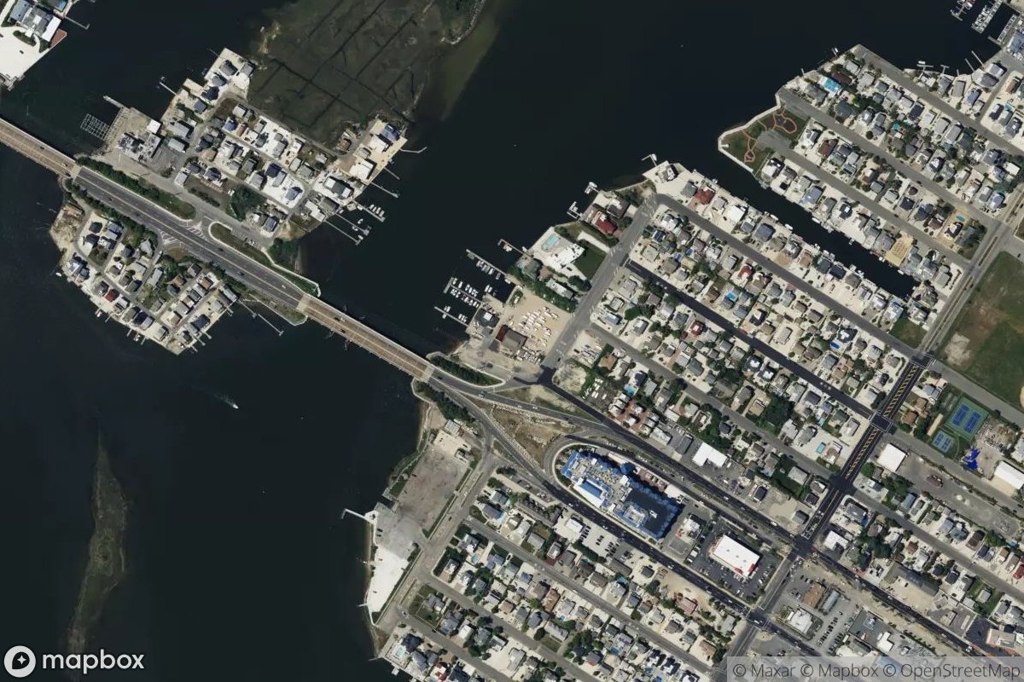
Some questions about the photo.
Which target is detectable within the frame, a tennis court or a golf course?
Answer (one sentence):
Looking from above, you can make out a tennis court.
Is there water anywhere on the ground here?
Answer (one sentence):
Yes, water can be seen from above here.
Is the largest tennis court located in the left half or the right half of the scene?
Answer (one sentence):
It is on the right.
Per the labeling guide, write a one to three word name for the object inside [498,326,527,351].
shed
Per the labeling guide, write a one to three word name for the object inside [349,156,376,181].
house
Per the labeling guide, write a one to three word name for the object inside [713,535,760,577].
building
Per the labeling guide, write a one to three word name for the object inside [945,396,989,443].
tennis court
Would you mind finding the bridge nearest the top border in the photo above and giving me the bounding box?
[0,119,78,176]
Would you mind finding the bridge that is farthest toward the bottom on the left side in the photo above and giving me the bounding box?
[299,295,434,379]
